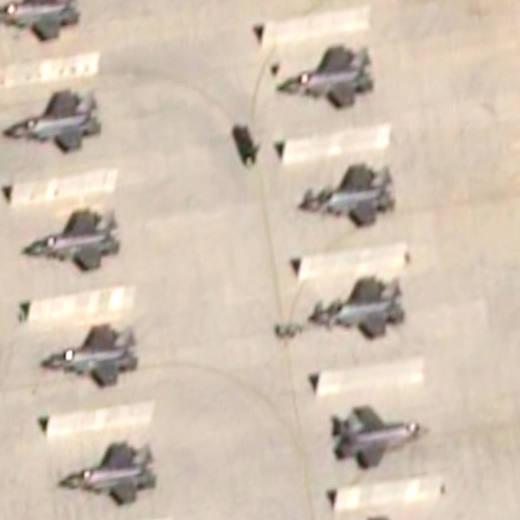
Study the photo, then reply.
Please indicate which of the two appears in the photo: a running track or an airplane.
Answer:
airplane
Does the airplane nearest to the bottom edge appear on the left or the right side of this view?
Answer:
left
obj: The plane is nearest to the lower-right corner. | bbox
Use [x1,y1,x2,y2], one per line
[341,406,428,465]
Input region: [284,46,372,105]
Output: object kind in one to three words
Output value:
airplane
